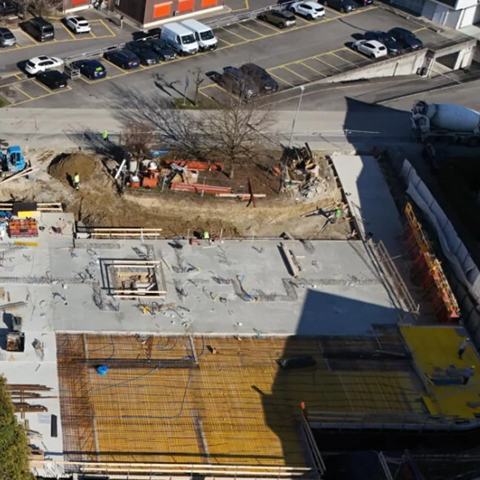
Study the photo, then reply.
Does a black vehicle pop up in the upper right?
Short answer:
Yes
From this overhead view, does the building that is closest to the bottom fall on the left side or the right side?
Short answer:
right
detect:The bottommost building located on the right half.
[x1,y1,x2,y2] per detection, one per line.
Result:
[418,38,480,78]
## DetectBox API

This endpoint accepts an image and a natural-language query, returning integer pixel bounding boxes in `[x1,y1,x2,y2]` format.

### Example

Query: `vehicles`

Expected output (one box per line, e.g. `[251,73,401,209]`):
[398,102,480,146]
[355,39,389,57]
[23,54,63,75]
[0,0,17,16]
[129,40,160,63]
[23,17,54,40]
[149,36,180,58]
[37,68,67,90]
[372,30,405,52]
[66,15,91,33]
[0,143,32,173]
[75,59,106,80]
[106,49,138,69]
[0,29,18,47]
[184,15,220,46]
[242,63,277,89]
[263,8,293,27]
[391,26,424,47]
[294,1,324,18]
[161,18,198,50]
